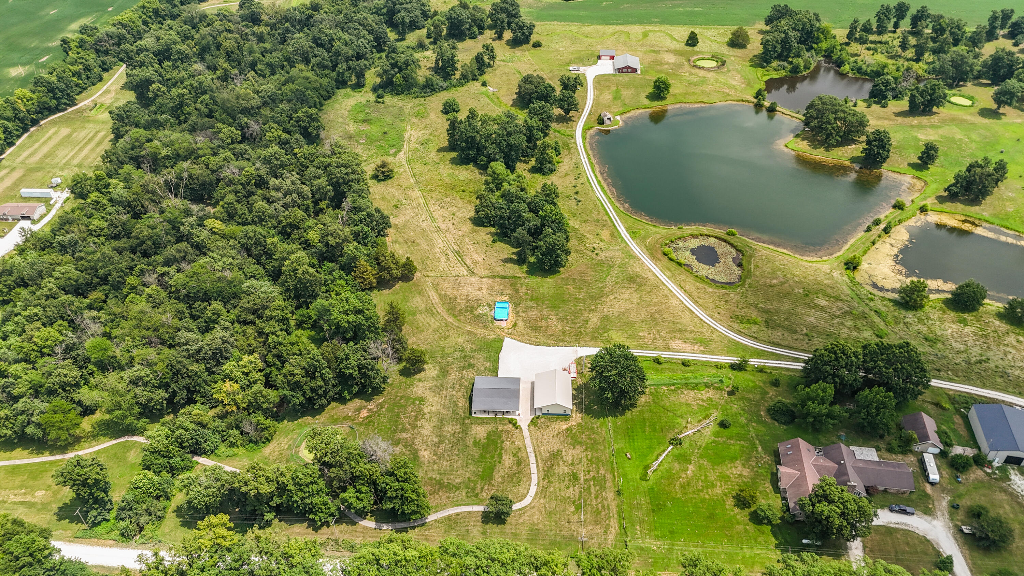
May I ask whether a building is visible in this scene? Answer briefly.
Yes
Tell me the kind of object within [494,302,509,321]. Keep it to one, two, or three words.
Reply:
swimming pool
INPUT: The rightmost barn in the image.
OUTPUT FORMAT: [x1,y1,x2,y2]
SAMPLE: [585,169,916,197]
[971,401,1024,465]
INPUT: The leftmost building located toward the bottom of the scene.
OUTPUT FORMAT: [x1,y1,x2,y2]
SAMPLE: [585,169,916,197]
[471,376,520,418]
